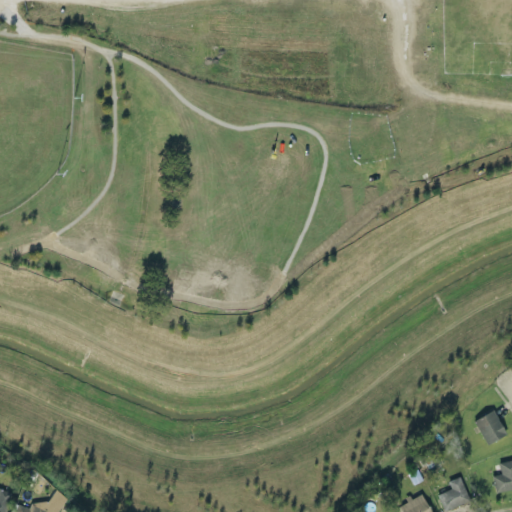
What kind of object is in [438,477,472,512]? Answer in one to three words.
house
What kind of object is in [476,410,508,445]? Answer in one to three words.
house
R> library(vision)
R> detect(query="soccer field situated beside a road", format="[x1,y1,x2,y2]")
[443,0,512,75]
